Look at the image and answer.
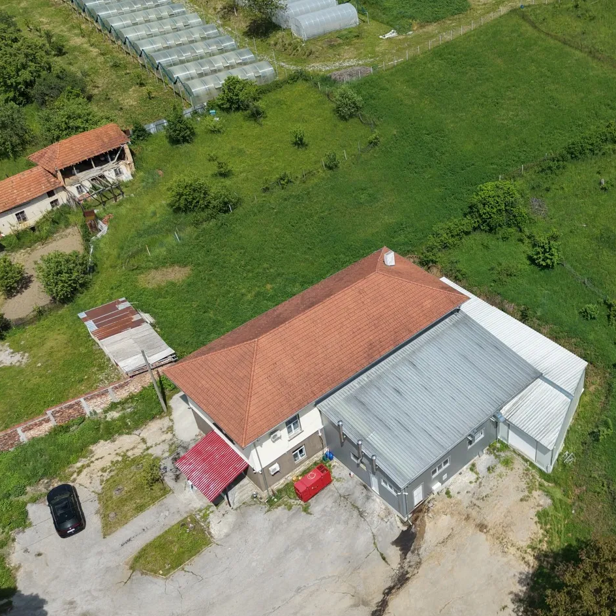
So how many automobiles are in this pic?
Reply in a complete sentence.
I count just 1 automobile.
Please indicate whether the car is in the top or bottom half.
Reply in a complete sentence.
The bottom half of the photo is where the car is.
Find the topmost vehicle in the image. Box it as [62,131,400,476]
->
[45,485,88,543]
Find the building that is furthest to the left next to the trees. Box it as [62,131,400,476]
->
[0,164,66,235]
